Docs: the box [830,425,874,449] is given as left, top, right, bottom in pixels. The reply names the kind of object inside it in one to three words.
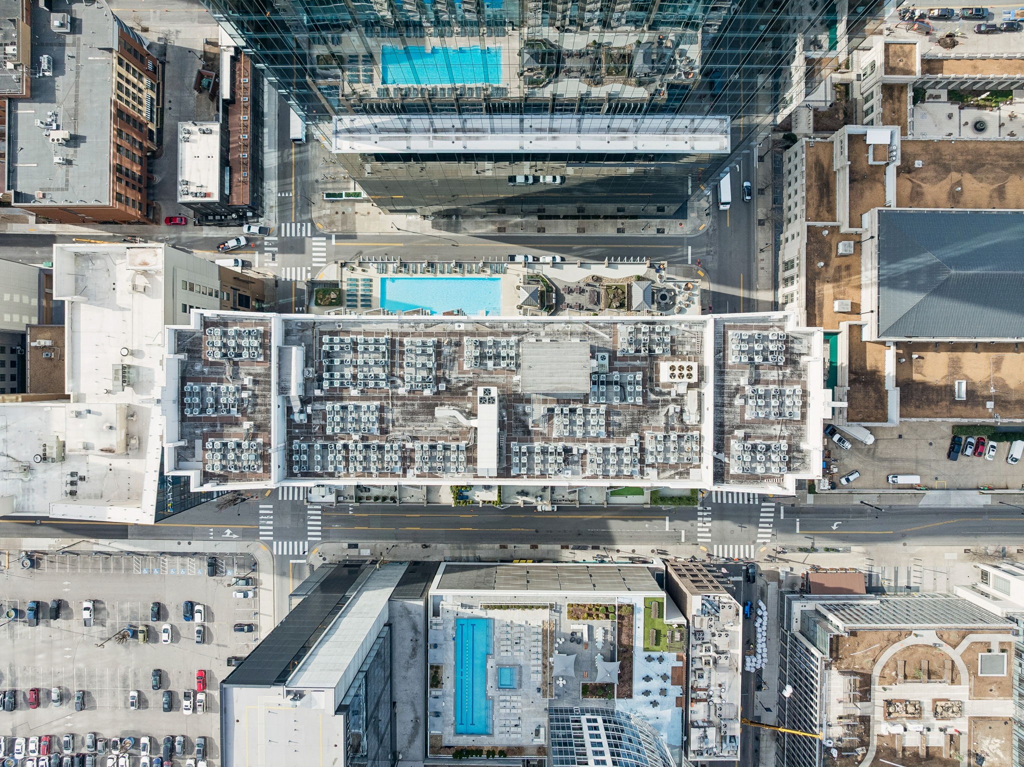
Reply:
truck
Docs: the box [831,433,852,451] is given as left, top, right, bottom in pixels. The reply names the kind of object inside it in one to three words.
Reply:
car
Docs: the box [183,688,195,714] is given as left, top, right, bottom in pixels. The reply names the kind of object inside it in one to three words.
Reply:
vehicle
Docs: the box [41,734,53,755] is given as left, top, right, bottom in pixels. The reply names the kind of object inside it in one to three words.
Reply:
vehicle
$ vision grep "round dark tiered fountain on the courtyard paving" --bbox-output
[969,116,990,136]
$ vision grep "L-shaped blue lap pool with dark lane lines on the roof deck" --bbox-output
[455,617,494,736]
